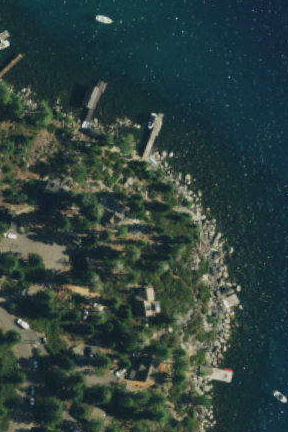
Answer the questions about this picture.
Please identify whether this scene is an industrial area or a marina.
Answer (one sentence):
This image shows a marina.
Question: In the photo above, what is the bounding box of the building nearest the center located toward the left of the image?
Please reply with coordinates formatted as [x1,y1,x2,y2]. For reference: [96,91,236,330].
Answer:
[96,194,130,227]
